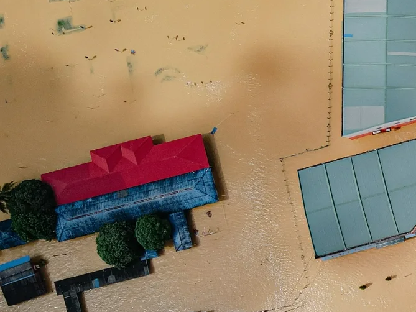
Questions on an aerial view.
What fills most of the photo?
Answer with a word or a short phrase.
water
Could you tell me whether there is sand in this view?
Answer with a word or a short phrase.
No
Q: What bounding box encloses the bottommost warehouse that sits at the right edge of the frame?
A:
[297,139,416,260]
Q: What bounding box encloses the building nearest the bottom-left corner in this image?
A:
[0,256,51,305]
